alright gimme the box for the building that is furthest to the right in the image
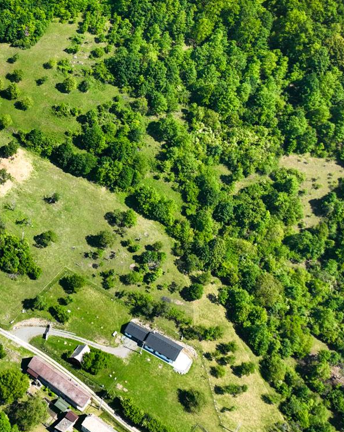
[144,331,183,363]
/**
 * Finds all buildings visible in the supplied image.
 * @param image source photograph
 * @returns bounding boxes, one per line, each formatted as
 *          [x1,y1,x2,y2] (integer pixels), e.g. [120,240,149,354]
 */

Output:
[28,357,92,410]
[54,410,74,432]
[82,414,113,432]
[73,343,90,364]
[125,322,150,343]
[144,331,183,363]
